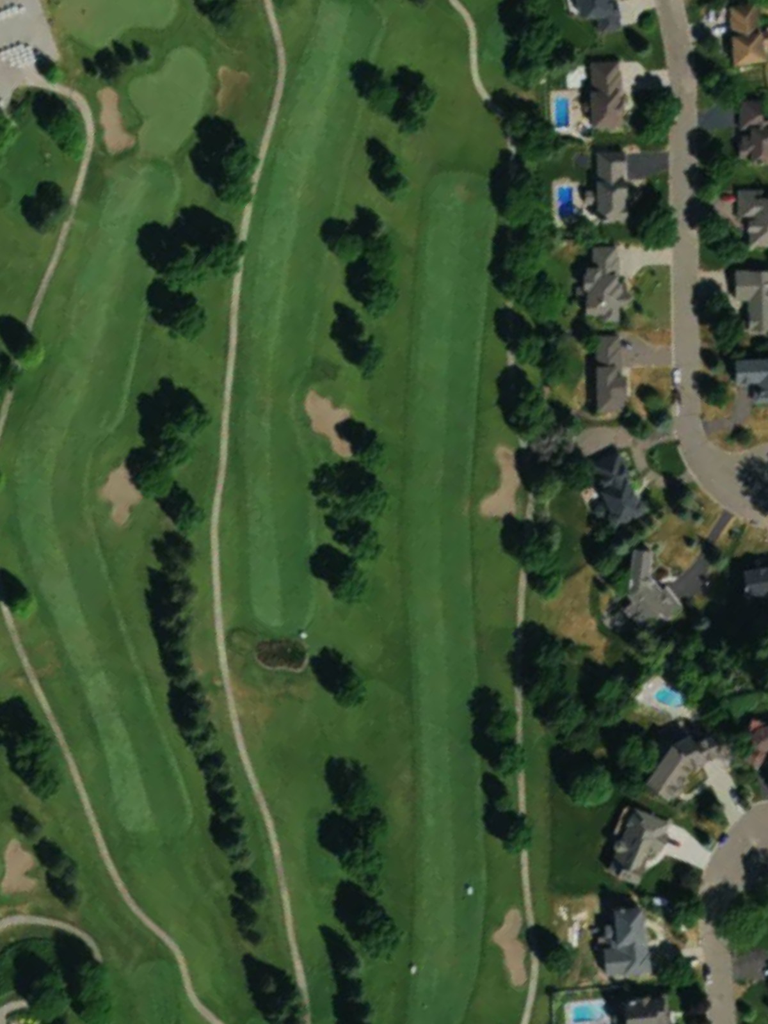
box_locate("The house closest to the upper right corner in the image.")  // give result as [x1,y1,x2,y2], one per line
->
[733,1,768,66]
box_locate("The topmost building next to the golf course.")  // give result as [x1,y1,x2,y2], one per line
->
[569,0,622,31]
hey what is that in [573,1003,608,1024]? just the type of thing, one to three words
swimming pool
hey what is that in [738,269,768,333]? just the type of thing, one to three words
house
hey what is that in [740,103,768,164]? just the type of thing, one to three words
house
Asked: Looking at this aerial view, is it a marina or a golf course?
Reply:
golf course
